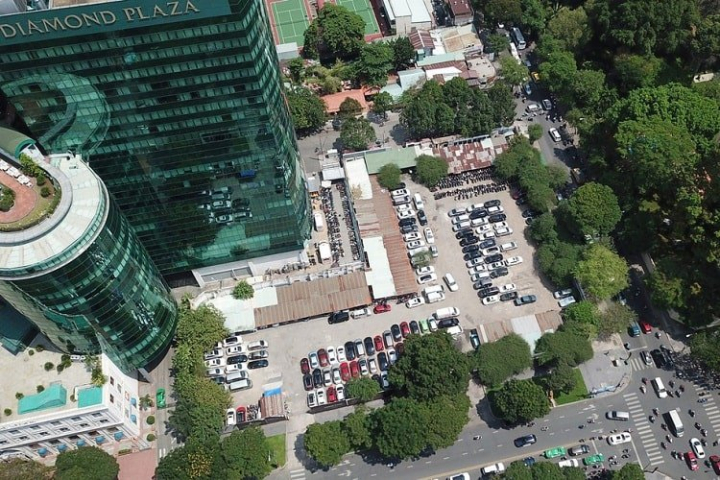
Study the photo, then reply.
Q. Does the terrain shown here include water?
No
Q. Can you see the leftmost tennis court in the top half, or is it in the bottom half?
top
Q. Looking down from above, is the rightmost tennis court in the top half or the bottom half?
top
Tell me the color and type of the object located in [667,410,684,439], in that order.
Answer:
white vehicle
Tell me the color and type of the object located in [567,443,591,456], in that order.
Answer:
gray vehicle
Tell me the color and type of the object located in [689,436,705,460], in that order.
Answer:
white car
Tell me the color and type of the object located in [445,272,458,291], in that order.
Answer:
white vehicle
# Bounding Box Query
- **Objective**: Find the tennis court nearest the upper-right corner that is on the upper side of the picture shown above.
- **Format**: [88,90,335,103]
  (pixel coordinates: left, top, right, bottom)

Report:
[340,0,399,42]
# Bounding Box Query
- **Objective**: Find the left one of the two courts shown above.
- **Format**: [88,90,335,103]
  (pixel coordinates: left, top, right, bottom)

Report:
[269,0,318,54]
